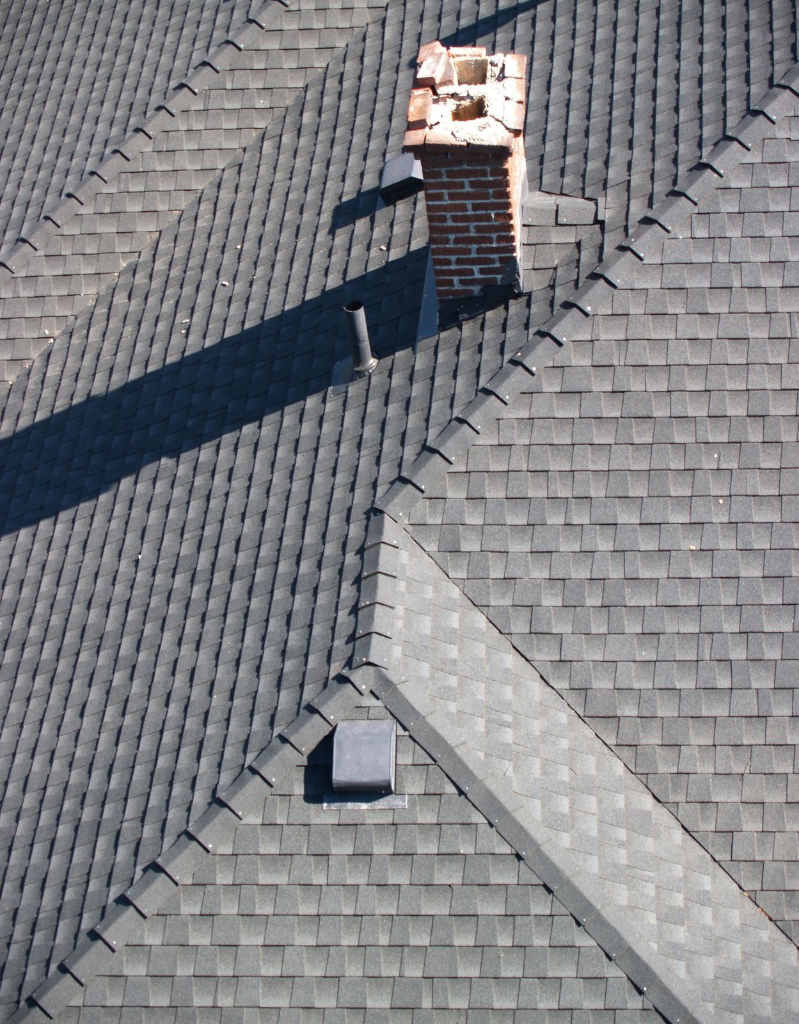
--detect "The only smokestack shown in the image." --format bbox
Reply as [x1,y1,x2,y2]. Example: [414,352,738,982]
[404,46,530,349]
